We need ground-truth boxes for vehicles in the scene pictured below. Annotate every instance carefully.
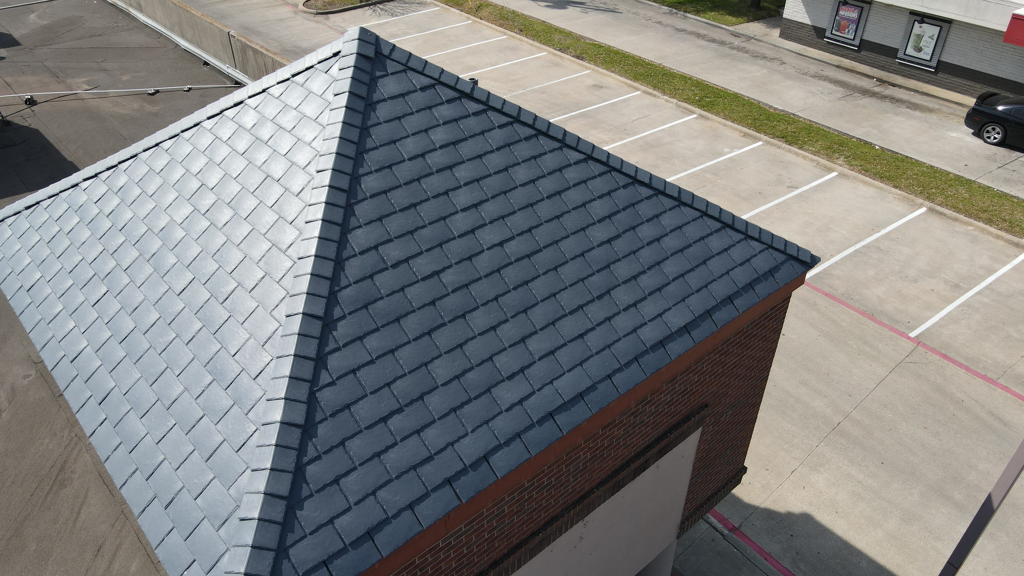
[966,91,1024,147]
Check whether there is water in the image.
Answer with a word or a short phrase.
No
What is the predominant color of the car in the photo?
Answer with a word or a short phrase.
black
